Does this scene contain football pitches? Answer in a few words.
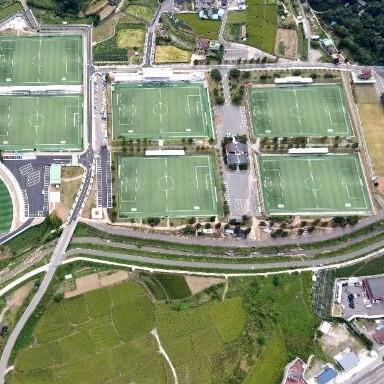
Yes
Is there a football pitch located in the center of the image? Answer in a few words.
Yes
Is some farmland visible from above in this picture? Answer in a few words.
Yes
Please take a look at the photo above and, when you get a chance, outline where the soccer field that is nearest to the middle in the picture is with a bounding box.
[117,153,219,218]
